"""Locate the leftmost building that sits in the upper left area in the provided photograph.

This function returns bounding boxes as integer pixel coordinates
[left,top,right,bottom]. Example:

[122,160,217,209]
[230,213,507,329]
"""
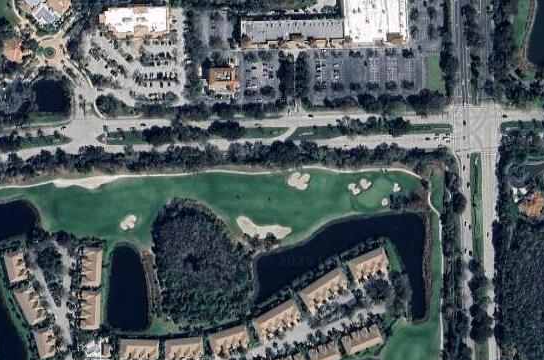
[1,36,27,61]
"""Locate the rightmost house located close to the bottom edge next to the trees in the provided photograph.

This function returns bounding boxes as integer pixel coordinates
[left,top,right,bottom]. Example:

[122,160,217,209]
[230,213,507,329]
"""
[341,324,383,354]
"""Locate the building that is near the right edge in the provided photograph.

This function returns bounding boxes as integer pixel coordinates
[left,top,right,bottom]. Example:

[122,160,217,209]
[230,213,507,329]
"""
[518,189,544,218]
